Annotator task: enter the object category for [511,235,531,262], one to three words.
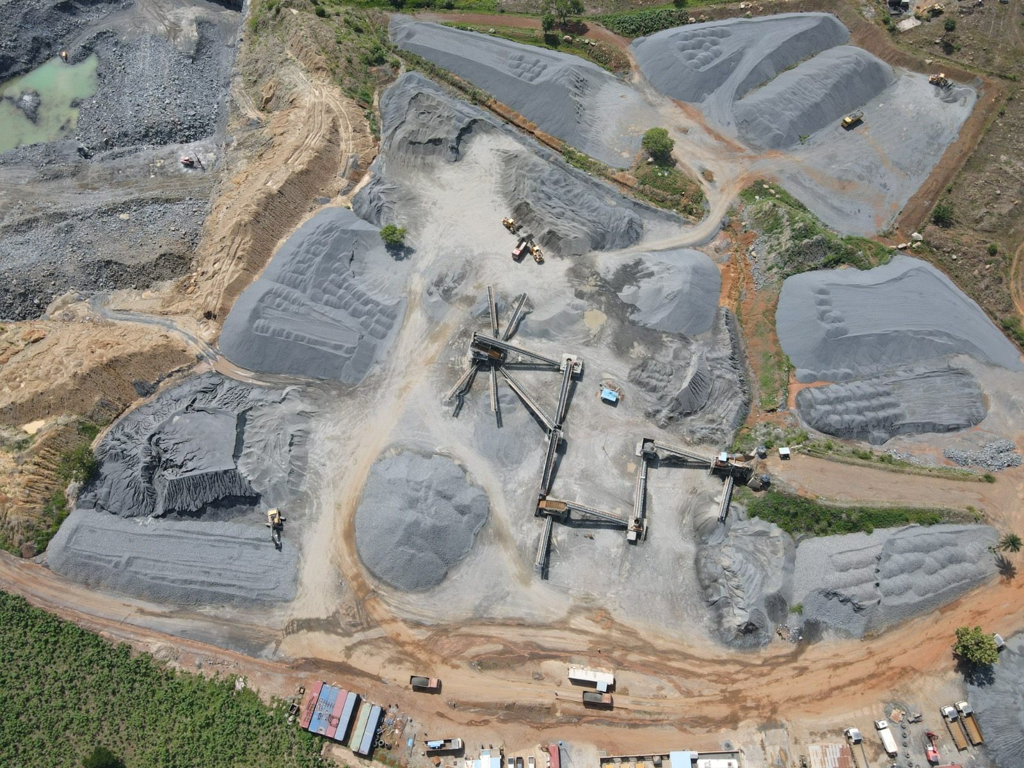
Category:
vehicle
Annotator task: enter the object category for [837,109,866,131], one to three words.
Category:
truck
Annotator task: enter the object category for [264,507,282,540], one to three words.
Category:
work vehicle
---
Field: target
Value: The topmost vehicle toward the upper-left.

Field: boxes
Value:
[60,51,73,72]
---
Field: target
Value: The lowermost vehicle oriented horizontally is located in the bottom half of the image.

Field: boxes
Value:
[424,738,463,753]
